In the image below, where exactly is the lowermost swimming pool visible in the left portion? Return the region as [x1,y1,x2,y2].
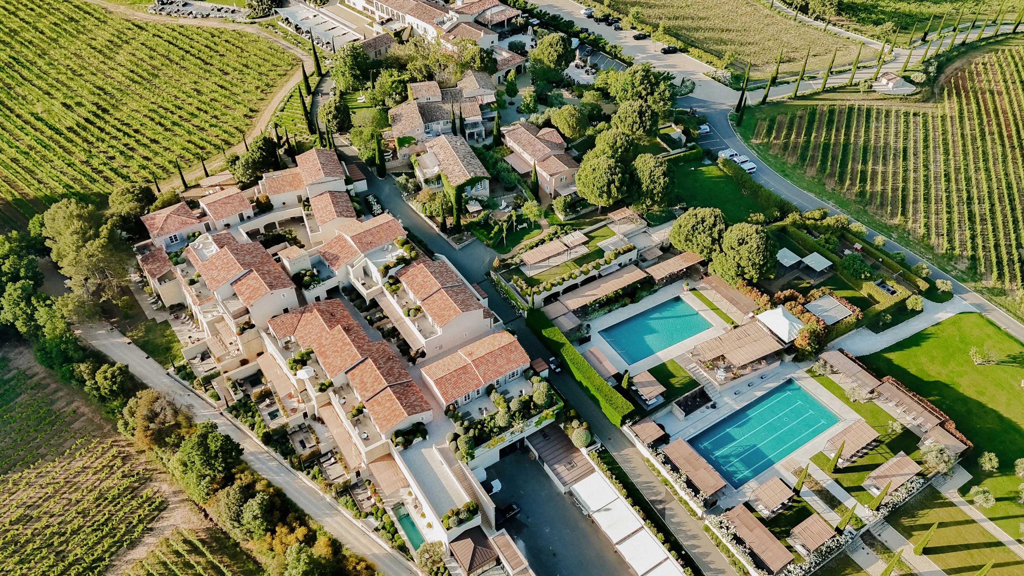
[388,498,426,553]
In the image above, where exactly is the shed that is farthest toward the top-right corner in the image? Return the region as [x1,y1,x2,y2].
[877,71,910,92]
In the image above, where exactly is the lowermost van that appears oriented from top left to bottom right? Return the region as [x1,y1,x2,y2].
[471,460,504,492]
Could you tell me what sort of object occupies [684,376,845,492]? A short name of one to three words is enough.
swimming pool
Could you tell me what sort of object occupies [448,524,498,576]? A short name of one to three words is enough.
building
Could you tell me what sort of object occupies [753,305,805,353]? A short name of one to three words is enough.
tent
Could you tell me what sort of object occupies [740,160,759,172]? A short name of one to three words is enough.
vehicle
